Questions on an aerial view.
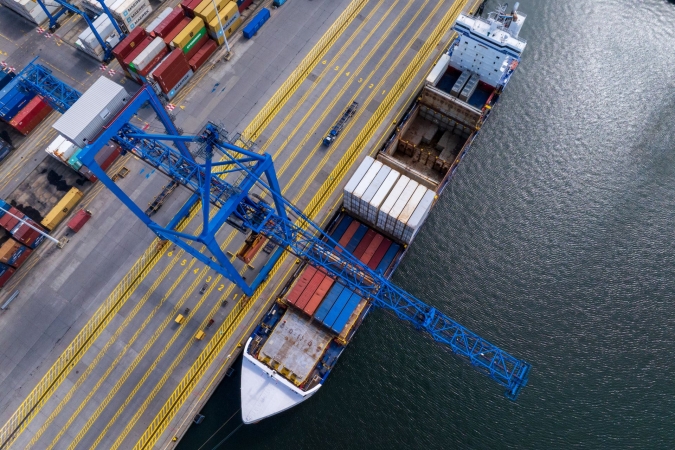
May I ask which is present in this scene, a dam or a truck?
truck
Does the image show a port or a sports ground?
port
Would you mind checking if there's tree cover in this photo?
No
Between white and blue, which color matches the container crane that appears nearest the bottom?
blue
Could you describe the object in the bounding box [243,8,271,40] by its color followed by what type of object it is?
blue shipping container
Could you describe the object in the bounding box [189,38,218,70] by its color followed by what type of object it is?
red shipping container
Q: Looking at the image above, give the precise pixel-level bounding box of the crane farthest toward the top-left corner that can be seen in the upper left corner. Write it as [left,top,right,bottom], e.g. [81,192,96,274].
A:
[33,0,129,63]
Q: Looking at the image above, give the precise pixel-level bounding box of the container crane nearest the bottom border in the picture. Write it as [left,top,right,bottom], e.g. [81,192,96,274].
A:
[22,61,531,398]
